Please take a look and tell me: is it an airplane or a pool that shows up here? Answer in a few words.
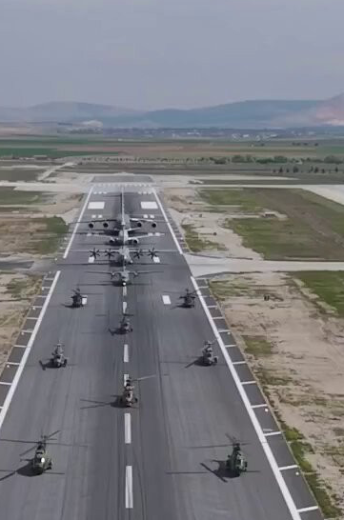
airplane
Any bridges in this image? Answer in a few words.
No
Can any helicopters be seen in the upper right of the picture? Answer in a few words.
No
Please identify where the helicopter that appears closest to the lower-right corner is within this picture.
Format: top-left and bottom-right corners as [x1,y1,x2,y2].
[189,428,281,476]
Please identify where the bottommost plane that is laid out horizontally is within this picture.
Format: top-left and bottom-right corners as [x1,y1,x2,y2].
[84,269,163,289]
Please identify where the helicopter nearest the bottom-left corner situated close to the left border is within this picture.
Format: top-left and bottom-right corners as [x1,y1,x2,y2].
[0,427,88,475]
